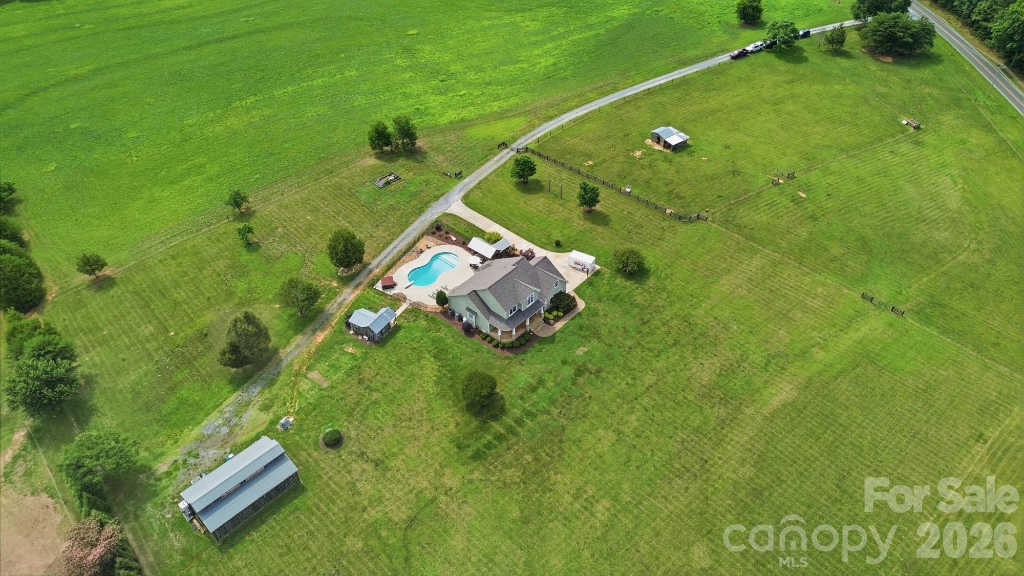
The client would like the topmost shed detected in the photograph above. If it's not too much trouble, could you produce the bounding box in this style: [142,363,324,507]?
[651,125,689,151]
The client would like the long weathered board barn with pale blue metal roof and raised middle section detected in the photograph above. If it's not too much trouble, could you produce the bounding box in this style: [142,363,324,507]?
[180,436,301,541]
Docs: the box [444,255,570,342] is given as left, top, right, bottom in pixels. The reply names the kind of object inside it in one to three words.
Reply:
house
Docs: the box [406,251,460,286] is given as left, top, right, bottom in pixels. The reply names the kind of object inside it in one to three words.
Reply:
swimming pool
